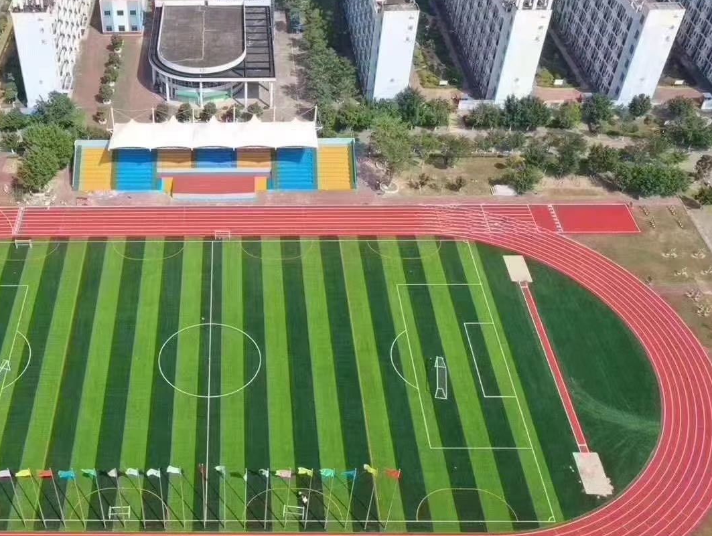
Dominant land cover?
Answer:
grass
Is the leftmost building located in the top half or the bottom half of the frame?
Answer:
top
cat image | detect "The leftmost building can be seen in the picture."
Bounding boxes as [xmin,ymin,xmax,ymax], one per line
[10,0,99,105]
